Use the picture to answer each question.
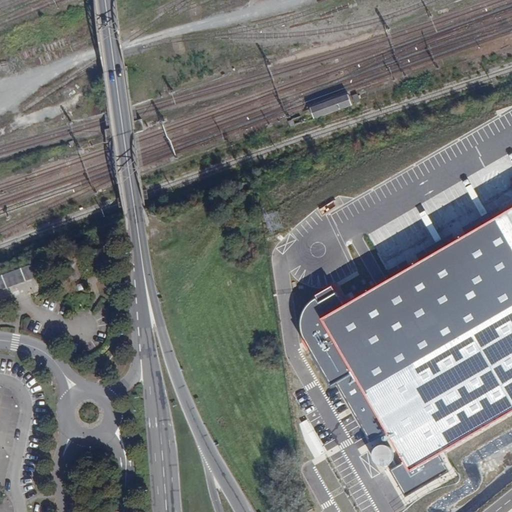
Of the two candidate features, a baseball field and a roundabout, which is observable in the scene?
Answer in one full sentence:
The one in the frame is a roundabout.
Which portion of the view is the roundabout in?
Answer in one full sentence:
The roundabout is in the bottom left part of the image.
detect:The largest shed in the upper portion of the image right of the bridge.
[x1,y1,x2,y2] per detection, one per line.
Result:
[310,94,352,118]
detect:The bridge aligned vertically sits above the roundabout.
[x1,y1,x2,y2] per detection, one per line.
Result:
[93,0,148,206]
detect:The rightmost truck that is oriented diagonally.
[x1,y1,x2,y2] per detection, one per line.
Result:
[463,180,488,216]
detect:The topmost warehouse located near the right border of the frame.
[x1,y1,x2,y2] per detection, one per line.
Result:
[320,204,512,467]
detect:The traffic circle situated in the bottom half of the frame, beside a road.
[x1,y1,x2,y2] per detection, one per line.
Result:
[56,380,116,440]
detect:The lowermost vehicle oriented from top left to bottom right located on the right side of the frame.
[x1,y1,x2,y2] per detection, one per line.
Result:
[420,210,444,246]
